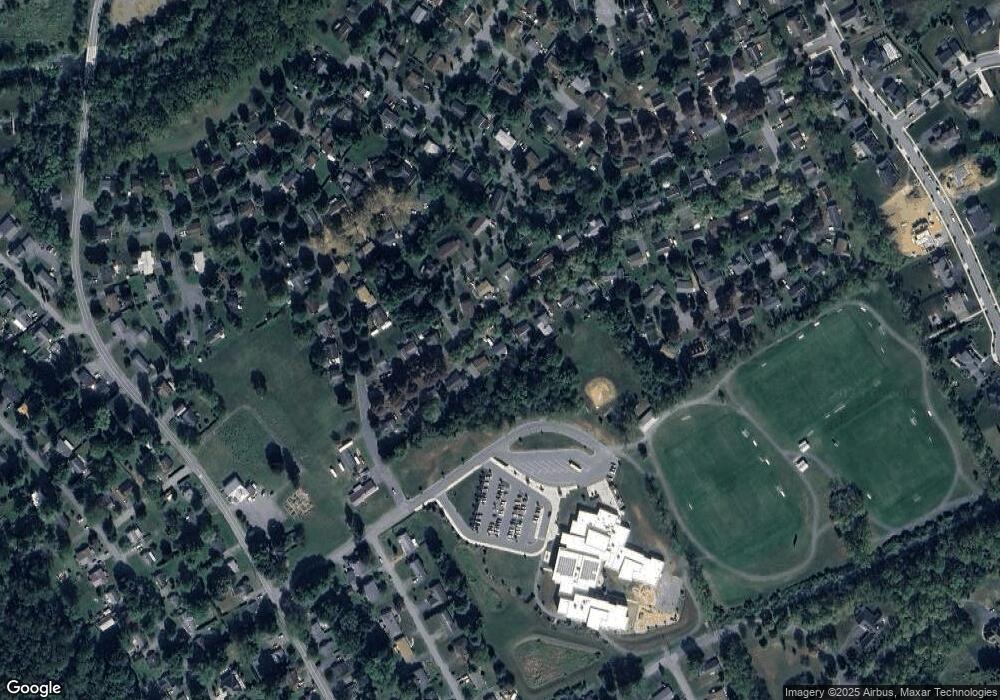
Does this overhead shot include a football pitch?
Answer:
Yes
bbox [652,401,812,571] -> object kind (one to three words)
soccer field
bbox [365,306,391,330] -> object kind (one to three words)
house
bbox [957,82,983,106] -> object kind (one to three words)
house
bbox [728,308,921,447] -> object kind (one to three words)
soccer field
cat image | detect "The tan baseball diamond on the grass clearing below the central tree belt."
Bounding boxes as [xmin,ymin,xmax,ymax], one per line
[586,377,616,413]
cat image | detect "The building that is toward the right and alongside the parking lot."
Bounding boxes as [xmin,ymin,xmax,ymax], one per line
[544,509,665,632]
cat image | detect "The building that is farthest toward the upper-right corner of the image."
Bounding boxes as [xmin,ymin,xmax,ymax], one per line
[965,8,994,34]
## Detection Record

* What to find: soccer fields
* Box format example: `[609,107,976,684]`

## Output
[652,401,812,571]
[806,387,952,520]
[728,308,921,447]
